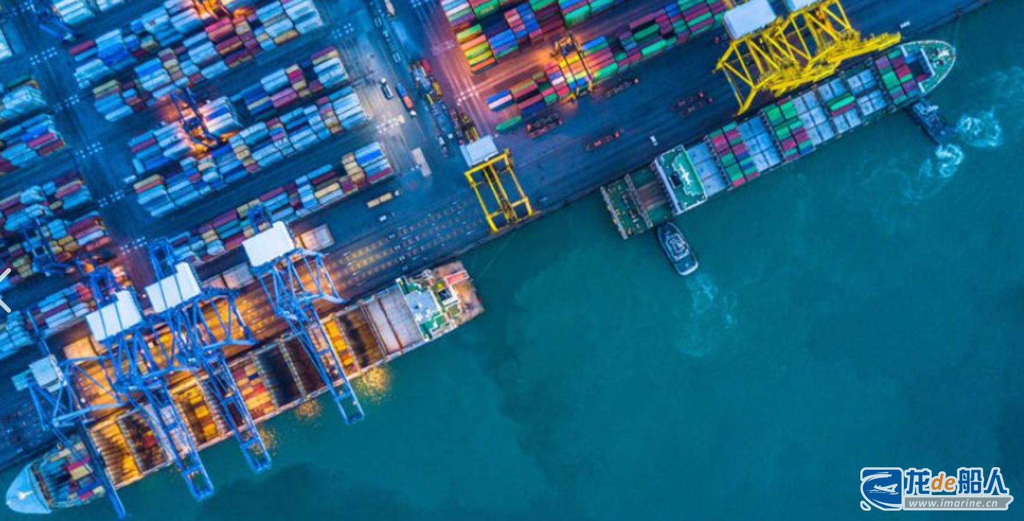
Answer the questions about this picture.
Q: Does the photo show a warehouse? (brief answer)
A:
No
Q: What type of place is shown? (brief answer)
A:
port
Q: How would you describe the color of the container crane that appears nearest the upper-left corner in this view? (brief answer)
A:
blue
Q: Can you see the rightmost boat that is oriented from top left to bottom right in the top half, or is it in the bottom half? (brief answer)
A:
top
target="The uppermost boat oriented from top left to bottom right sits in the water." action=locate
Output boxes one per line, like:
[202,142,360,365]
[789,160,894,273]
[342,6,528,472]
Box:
[907,105,951,152]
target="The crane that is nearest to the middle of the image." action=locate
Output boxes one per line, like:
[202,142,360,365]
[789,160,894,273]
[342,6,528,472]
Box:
[451,99,541,232]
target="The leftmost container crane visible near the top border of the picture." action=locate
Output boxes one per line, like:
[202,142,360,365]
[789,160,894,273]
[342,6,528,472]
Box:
[26,0,93,49]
